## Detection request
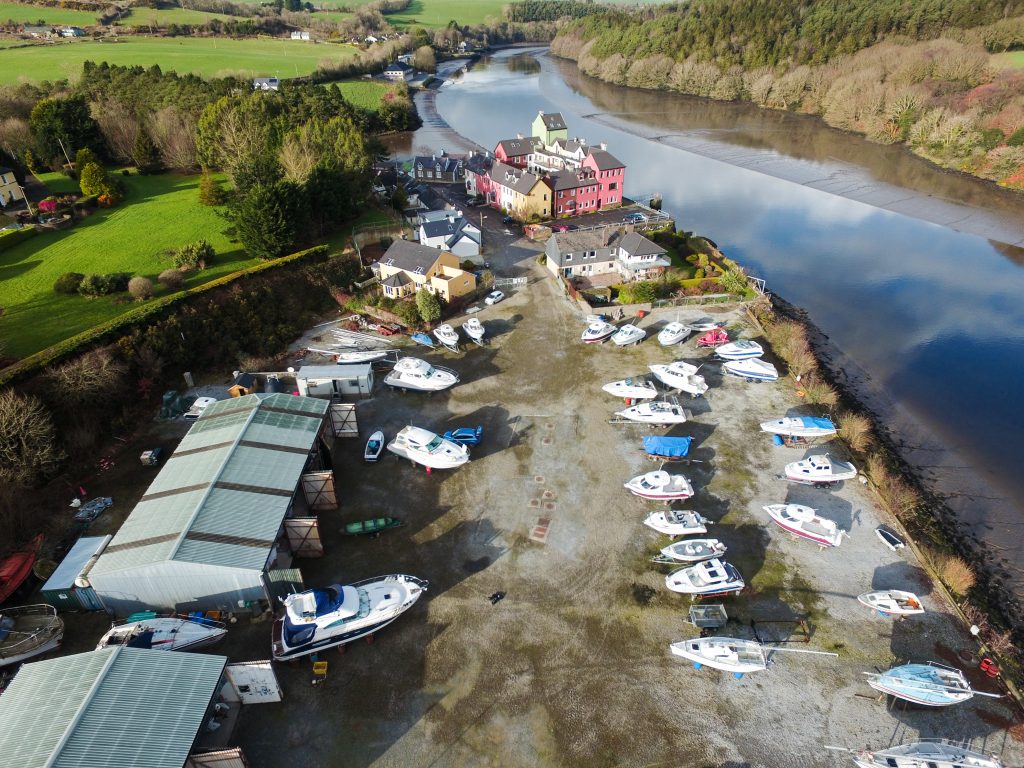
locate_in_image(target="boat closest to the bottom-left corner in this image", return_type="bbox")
[0,609,61,664]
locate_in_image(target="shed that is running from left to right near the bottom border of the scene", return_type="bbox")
[0,639,283,768]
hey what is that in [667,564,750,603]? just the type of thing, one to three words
boat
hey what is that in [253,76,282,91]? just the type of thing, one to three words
house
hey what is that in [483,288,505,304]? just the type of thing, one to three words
car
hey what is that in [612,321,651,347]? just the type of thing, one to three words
boat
